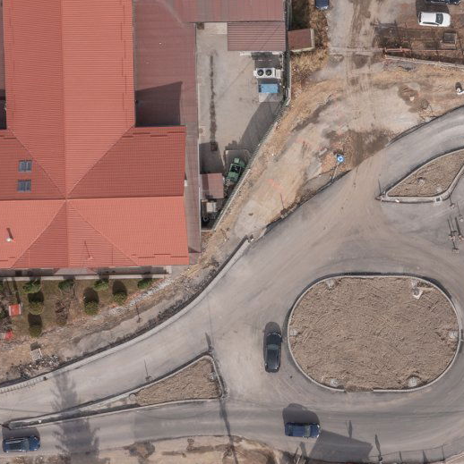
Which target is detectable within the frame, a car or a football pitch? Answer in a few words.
car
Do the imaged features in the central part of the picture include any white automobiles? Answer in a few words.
No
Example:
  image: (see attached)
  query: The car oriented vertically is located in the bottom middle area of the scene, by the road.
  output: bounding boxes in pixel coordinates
[262,334,280,374]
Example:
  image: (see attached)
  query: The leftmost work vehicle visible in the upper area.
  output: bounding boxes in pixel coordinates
[223,154,247,185]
